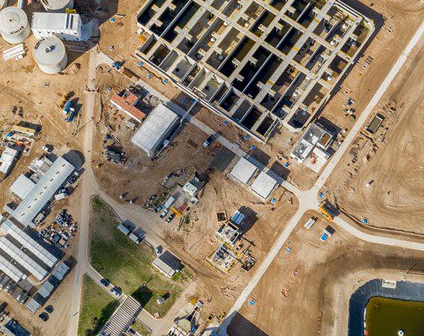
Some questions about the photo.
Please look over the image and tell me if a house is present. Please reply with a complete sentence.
Yes, there is a house in the image.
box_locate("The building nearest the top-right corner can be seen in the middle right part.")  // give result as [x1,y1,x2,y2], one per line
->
[292,123,334,166]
